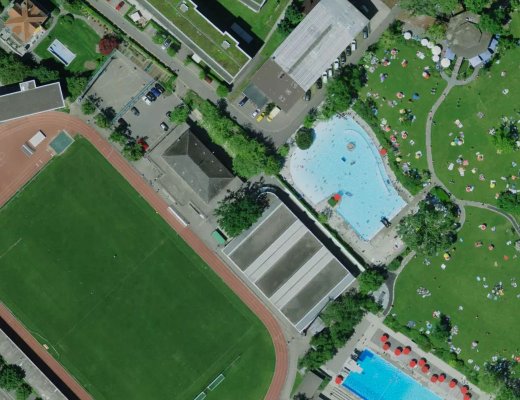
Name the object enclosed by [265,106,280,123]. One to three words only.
vehicle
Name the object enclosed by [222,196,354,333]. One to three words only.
building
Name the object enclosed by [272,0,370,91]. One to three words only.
building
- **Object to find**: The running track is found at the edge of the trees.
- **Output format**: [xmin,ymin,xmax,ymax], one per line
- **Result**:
[0,108,289,400]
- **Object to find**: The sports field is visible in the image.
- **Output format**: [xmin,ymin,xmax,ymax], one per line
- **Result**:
[0,132,276,400]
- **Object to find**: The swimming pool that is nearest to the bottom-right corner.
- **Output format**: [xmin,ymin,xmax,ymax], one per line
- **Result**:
[340,346,454,400]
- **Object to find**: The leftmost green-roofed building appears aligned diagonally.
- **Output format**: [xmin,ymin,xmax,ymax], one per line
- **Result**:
[135,0,252,83]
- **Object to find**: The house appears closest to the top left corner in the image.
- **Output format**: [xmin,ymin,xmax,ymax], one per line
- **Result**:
[1,0,48,56]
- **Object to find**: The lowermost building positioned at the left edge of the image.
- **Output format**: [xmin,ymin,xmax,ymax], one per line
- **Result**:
[0,80,65,123]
